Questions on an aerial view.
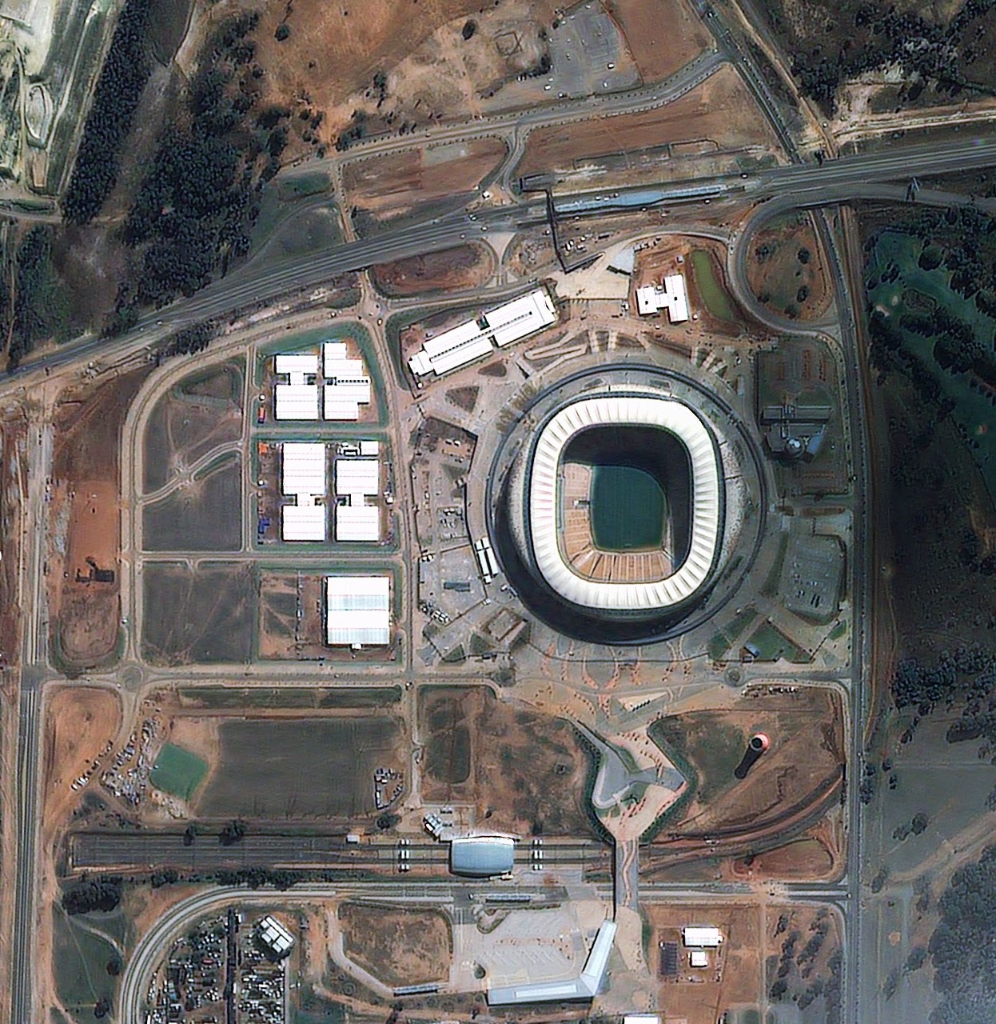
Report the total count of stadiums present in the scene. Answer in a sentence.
I count 1 stadium.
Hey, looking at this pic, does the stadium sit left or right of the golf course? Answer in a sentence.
Looking at the photo, the stadium lies to the left of the golf course.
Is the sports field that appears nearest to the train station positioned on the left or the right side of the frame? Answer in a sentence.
It is on the left.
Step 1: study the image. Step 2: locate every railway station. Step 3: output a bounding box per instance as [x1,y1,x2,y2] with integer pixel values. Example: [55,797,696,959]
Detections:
[451,832,514,878]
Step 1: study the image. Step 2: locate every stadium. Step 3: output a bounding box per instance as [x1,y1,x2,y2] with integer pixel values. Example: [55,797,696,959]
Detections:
[509,383,746,621]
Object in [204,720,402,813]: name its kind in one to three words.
sports field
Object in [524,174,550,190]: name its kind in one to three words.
building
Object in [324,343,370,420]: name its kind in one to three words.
building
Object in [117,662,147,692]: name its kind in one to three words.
roundabout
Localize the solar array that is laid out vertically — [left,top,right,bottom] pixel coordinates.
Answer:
[662,945,677,977]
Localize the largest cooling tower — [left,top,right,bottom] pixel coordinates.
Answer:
[751,732,771,752]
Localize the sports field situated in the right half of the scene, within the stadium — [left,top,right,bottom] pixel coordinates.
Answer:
[592,453,666,552]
